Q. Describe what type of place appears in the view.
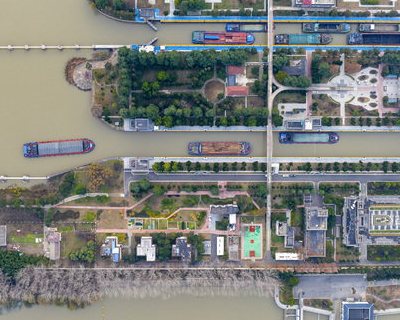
port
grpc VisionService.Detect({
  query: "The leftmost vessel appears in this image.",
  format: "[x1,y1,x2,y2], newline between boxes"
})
[22,139,94,158]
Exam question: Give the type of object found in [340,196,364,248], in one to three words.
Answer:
building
